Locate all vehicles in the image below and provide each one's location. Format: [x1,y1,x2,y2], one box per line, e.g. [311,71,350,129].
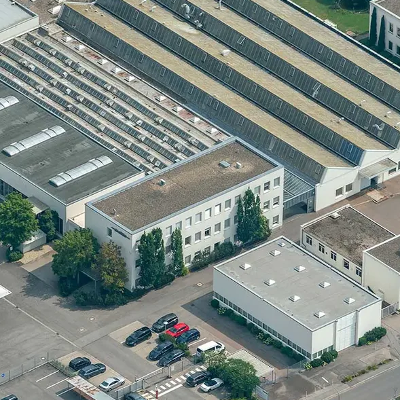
[149,341,175,359]
[176,327,202,342]
[167,319,192,334]
[157,347,187,366]
[67,355,93,371]
[125,326,154,345]
[77,363,107,380]
[123,392,146,400]
[152,311,179,331]
[198,378,222,394]
[98,377,126,394]
[195,337,227,354]
[184,369,213,387]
